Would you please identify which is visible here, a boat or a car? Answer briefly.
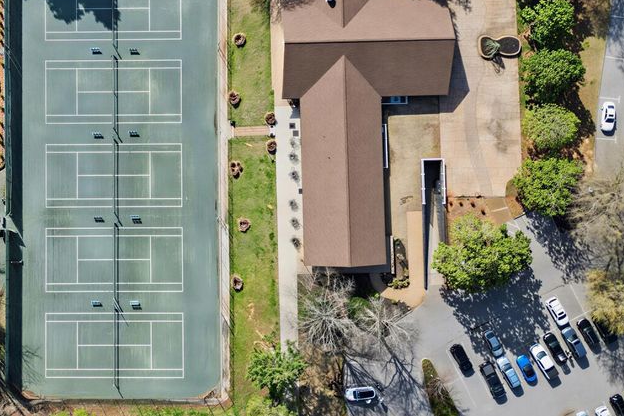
car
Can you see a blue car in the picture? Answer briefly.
Yes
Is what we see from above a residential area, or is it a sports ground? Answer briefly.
sports ground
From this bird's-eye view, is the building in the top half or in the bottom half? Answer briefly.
top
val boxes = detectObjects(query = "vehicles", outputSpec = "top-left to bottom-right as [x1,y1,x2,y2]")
[543,332,567,361]
[599,103,615,132]
[515,354,537,381]
[346,387,375,401]
[478,361,504,396]
[607,391,624,416]
[497,357,520,386]
[592,318,614,347]
[482,328,504,356]
[576,320,600,349]
[560,325,587,360]
[530,343,556,378]
[545,297,567,326]
[450,342,472,372]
